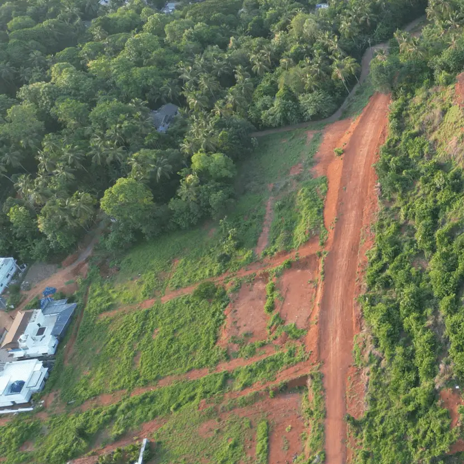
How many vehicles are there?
0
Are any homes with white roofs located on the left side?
Yes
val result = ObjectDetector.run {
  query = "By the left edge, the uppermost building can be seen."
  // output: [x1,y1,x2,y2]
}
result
[0,257,38,322]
